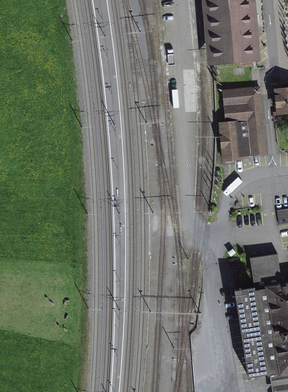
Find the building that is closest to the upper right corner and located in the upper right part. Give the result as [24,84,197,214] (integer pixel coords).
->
[202,0,260,65]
